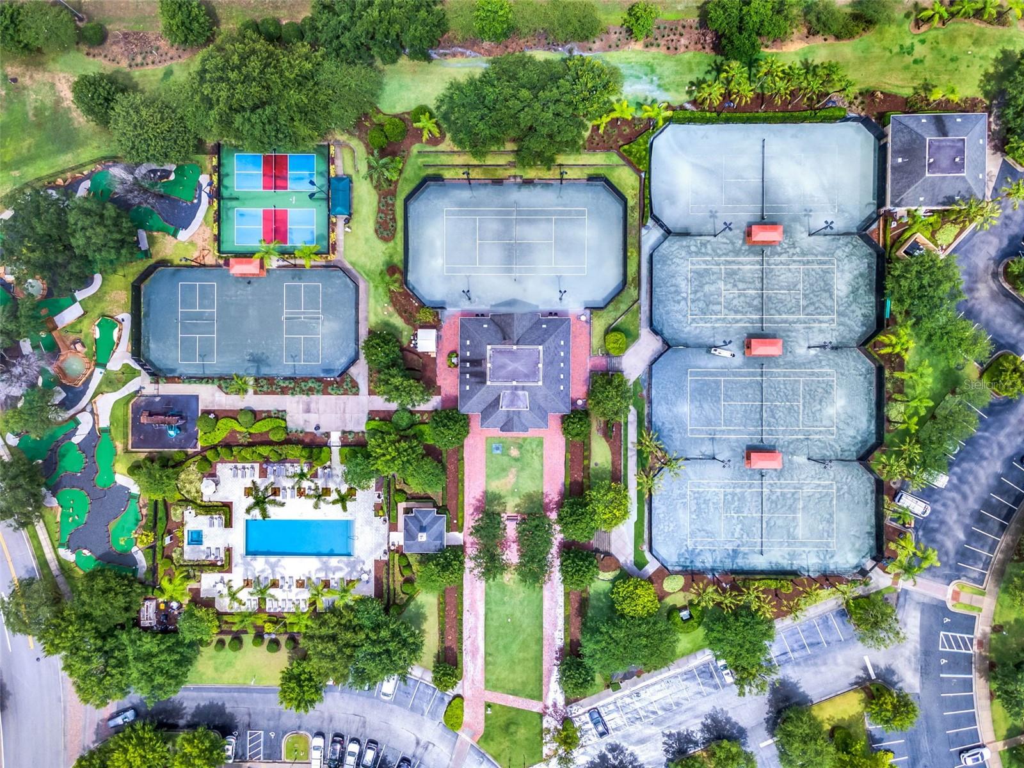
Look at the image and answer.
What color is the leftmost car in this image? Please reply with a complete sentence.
The leftmost car is blue.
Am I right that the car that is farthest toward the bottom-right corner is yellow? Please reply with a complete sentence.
No, the car that is farthest toward the bottom-right corner is actually white.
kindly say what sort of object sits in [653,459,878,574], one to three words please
tennis court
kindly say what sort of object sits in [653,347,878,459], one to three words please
tennis court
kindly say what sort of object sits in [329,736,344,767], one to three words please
car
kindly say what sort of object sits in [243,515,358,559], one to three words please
swimming pool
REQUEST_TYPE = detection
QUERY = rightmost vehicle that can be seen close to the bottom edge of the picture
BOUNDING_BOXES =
[957,745,989,765]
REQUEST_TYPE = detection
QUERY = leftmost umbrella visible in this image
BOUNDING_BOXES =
[202,480,216,495]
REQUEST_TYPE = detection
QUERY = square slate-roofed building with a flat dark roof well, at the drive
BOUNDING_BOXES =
[883,113,988,209]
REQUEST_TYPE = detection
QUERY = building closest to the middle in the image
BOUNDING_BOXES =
[459,314,571,432]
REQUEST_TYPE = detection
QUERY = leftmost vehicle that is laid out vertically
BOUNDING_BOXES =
[225,732,240,763]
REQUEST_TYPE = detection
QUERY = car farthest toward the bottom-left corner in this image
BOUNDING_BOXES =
[107,705,139,728]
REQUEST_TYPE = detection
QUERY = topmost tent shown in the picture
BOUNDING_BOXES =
[417,329,438,352]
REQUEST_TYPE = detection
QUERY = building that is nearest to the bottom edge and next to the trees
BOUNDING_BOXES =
[403,508,447,553]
